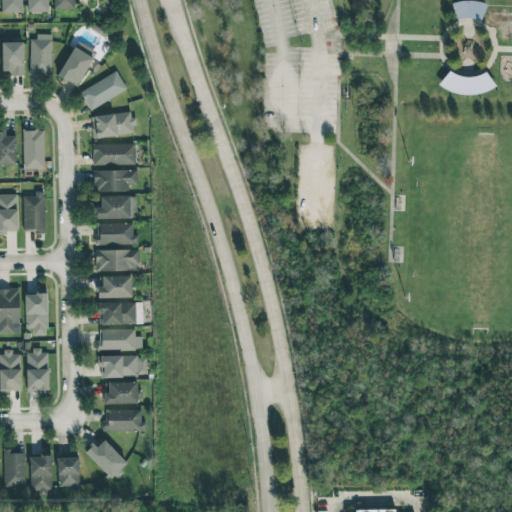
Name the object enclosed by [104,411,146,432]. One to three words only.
house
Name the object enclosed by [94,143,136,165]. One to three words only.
house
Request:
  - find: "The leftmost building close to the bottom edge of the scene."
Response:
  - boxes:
[4,450,26,488]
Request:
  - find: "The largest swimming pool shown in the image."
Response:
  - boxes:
[74,26,109,61]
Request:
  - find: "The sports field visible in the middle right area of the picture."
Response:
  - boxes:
[402,121,512,338]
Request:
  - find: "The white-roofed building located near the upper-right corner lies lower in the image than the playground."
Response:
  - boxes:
[440,70,499,94]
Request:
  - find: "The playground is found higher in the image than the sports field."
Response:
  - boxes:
[486,6,512,42]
